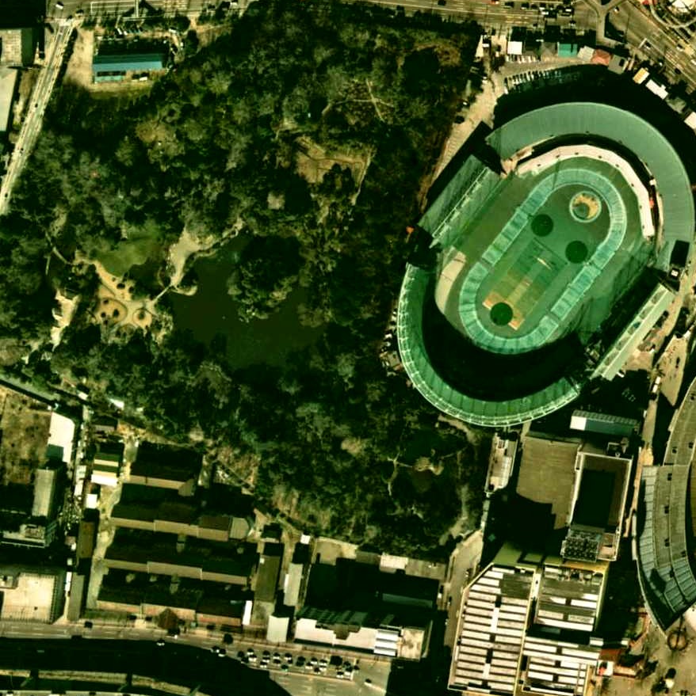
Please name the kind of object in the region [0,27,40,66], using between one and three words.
building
